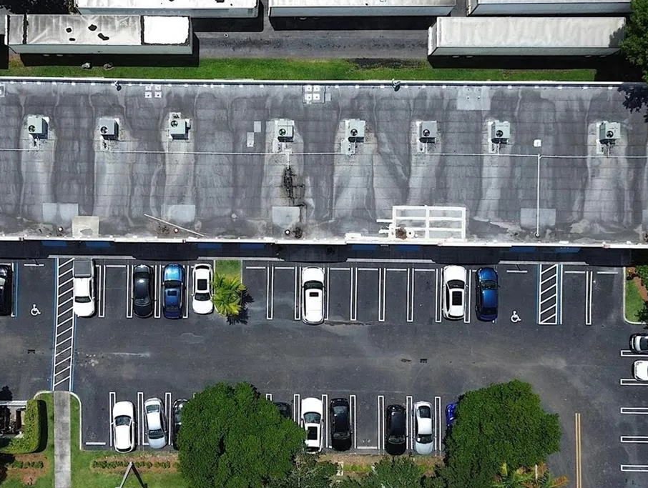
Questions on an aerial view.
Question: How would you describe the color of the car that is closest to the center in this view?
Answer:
white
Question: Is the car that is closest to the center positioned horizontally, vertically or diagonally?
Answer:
vertically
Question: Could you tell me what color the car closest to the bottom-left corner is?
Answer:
white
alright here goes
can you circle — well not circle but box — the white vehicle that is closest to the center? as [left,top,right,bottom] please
[301,267,326,325]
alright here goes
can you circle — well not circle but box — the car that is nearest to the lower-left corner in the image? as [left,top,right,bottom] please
[111,401,136,454]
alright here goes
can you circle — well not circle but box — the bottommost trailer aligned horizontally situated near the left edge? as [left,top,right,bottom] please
[6,13,192,56]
